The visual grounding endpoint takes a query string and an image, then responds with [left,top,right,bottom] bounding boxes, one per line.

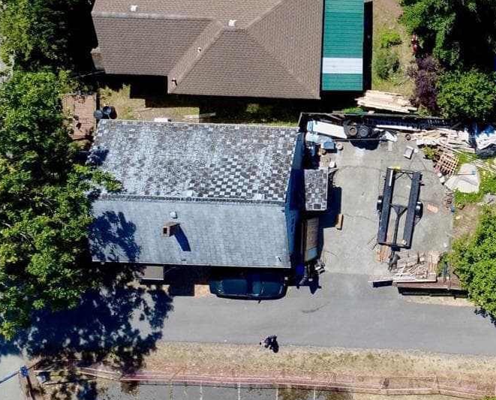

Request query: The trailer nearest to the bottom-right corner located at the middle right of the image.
[375,168,423,269]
